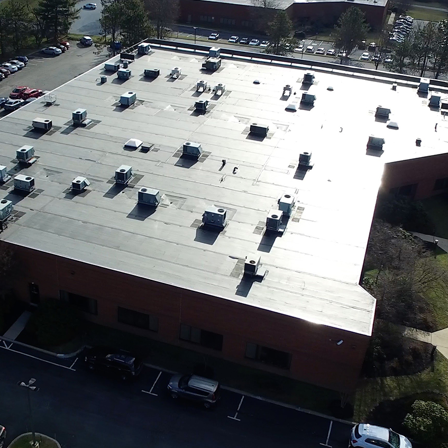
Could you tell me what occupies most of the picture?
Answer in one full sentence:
The bulk of the photo consists of buildings.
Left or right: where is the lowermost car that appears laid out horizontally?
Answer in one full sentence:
The lowermost car that appears laid out horizontally sits on the right side.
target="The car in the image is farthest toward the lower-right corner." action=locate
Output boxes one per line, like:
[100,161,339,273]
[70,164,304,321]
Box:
[348,421,413,448]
